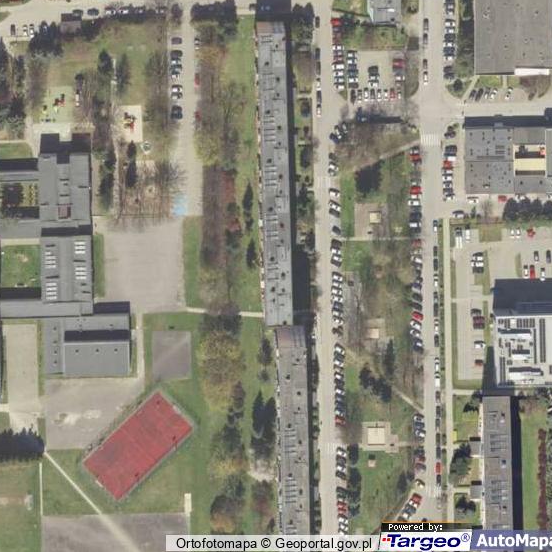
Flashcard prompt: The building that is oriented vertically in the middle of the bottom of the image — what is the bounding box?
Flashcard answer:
[273,326,310,552]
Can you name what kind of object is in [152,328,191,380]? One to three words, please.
sports court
